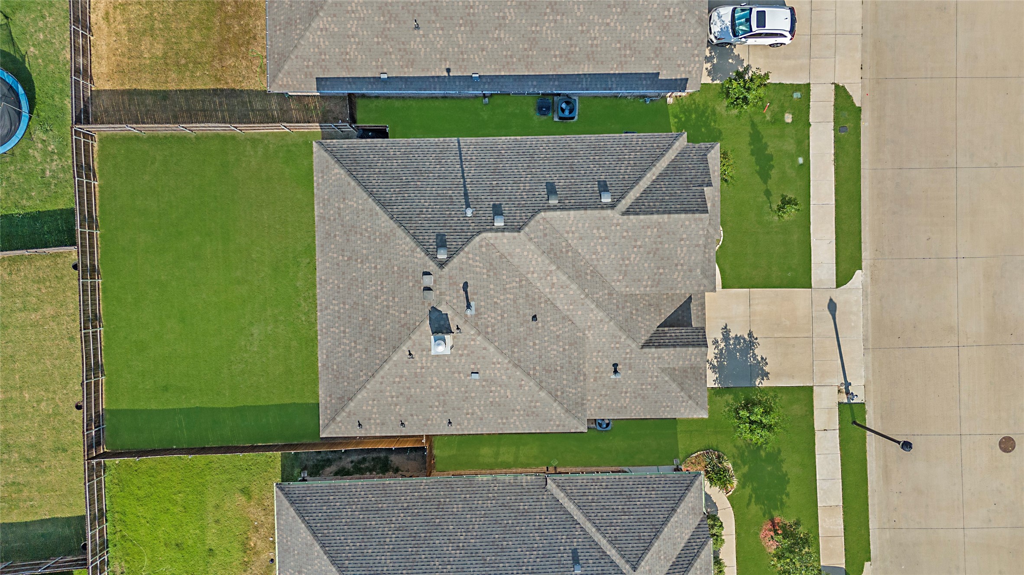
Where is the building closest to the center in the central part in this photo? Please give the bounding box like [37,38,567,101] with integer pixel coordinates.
[312,131,723,439]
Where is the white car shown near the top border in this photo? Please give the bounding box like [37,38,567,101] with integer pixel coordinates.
[708,0,797,46]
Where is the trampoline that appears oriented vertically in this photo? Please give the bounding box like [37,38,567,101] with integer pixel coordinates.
[0,66,45,158]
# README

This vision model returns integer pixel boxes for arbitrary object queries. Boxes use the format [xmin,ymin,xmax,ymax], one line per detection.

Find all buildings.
[264,0,709,103]
[272,458,715,575]
[312,131,723,439]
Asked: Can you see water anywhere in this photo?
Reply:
No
